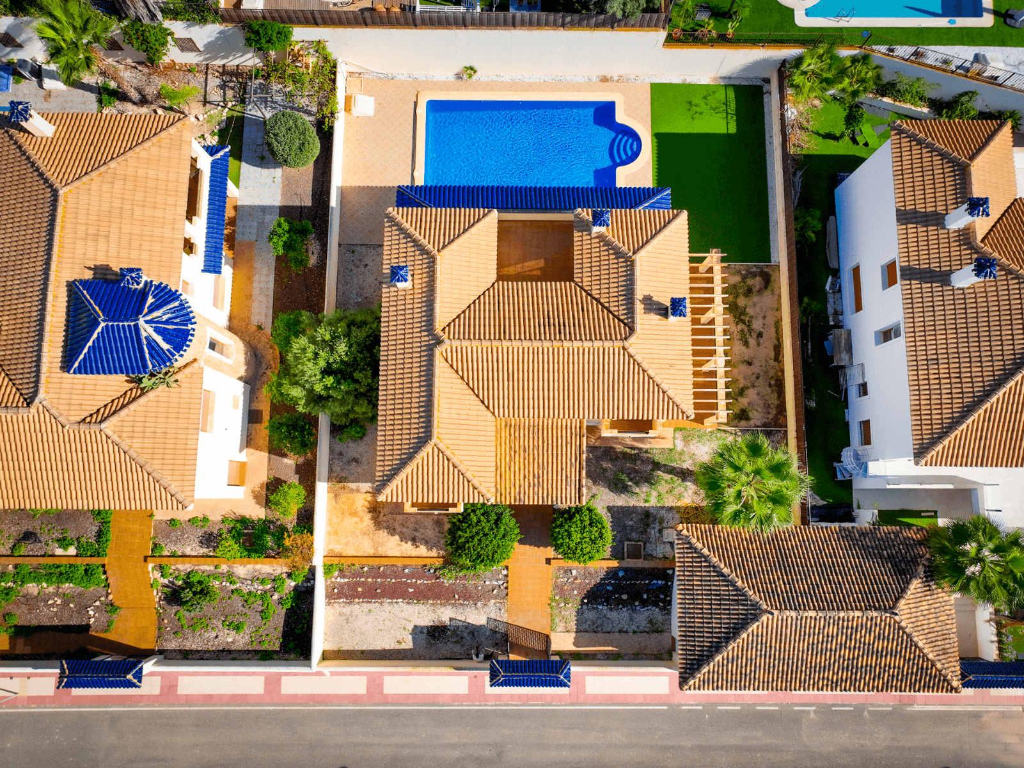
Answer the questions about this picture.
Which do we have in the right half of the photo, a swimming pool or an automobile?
swimming pool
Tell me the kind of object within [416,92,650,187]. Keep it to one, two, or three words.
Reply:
swimming pool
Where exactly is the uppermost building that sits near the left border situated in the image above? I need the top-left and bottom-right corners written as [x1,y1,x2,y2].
[0,98,263,511]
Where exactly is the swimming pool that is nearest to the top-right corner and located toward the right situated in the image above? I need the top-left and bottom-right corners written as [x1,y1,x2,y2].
[769,0,990,30]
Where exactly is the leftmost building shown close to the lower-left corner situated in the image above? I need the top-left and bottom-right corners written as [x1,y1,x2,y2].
[54,658,163,690]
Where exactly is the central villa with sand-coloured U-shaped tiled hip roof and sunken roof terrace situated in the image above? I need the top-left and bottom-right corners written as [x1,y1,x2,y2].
[375,184,697,515]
